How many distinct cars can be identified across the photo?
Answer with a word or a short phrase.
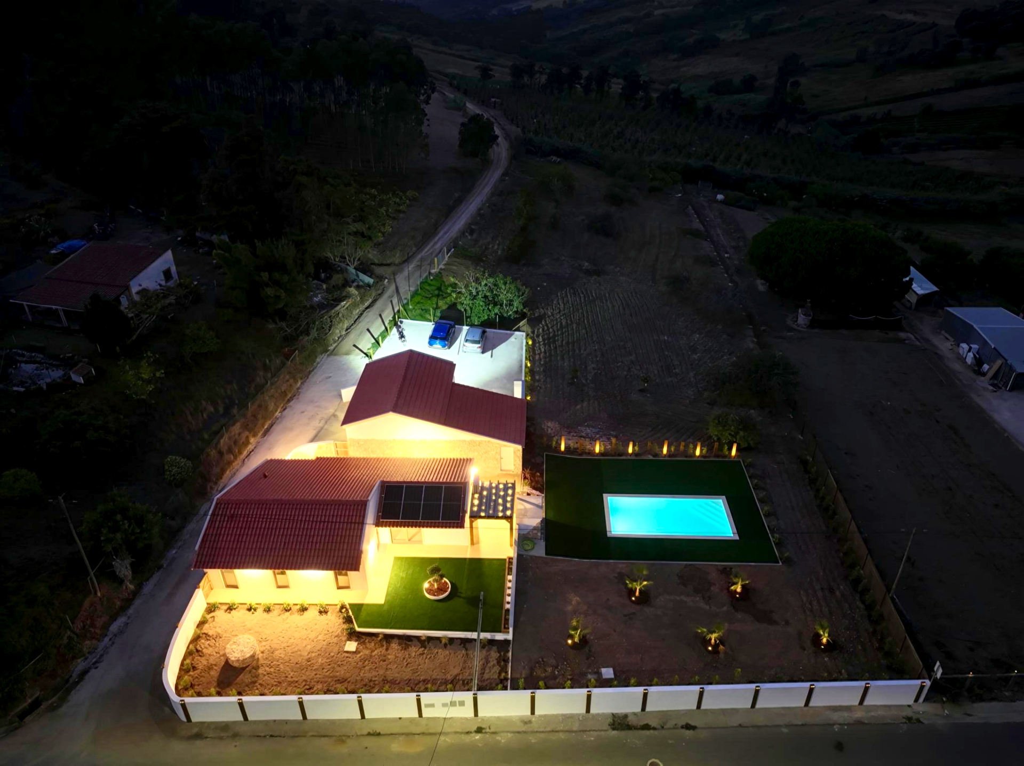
two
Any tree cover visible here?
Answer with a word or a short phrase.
Yes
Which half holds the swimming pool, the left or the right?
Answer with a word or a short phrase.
right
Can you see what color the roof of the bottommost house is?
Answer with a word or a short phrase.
red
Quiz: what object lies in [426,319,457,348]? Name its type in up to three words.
car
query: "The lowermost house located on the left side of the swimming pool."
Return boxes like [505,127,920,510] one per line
[193,456,480,592]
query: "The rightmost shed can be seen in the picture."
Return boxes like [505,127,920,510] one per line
[939,305,1024,396]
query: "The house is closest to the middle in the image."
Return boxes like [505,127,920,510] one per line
[340,348,528,493]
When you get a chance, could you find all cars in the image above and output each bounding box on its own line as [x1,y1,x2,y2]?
[462,325,487,352]
[426,319,457,348]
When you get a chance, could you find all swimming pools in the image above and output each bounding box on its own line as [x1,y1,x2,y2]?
[603,494,739,540]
